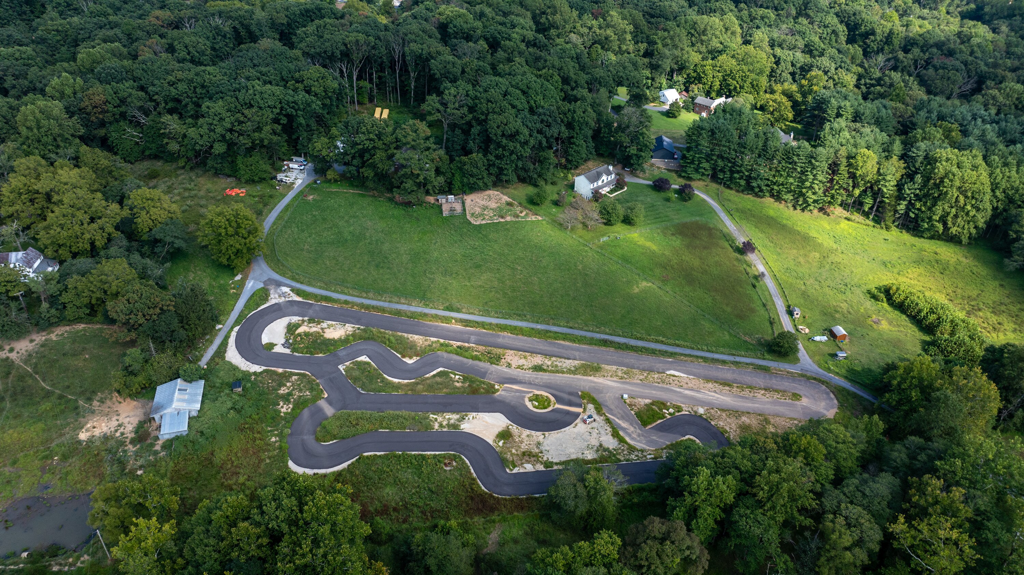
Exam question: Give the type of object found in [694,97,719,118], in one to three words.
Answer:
house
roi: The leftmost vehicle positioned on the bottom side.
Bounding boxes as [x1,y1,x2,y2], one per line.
[582,410,597,423]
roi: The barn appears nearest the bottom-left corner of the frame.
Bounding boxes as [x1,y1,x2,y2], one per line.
[150,374,207,439]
